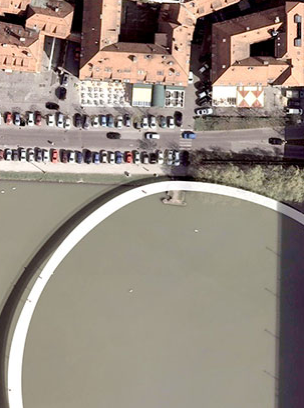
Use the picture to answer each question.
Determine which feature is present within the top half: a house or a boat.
house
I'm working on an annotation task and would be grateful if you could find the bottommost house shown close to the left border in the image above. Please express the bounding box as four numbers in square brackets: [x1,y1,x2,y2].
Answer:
[0,22,43,73]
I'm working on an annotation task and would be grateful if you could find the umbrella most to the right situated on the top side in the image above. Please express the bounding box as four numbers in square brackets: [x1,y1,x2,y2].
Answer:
[250,87,263,107]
